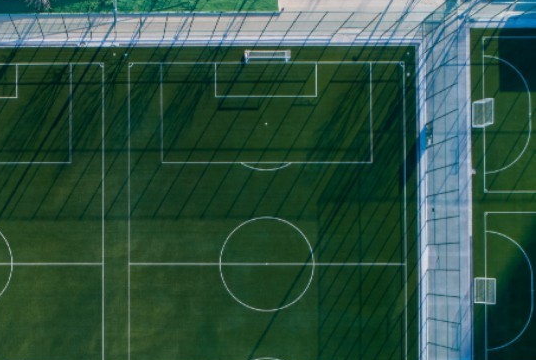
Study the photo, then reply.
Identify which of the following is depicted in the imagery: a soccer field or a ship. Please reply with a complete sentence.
The one in the frame is a soccer field.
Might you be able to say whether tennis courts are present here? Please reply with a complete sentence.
No, there's no tennis court here.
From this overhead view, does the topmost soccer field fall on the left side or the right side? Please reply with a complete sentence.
It is on the right.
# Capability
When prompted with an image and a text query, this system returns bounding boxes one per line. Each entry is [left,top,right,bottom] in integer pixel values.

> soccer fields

[471,26,536,202]
[0,48,116,360]
[116,46,418,360]
[472,202,536,360]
